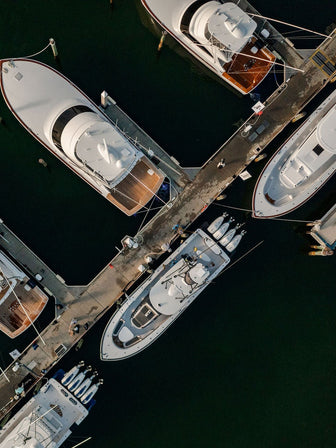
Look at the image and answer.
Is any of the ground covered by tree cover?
No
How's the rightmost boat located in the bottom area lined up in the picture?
diagonally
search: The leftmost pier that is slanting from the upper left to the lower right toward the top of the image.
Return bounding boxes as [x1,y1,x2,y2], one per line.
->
[101,101,201,205]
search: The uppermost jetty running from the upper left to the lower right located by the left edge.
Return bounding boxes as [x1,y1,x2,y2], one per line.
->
[0,219,86,319]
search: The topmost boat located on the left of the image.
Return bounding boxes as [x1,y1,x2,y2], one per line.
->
[0,58,168,217]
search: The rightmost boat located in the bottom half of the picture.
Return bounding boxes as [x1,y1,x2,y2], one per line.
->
[100,213,263,361]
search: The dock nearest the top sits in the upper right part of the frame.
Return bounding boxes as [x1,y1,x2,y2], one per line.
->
[243,0,316,82]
